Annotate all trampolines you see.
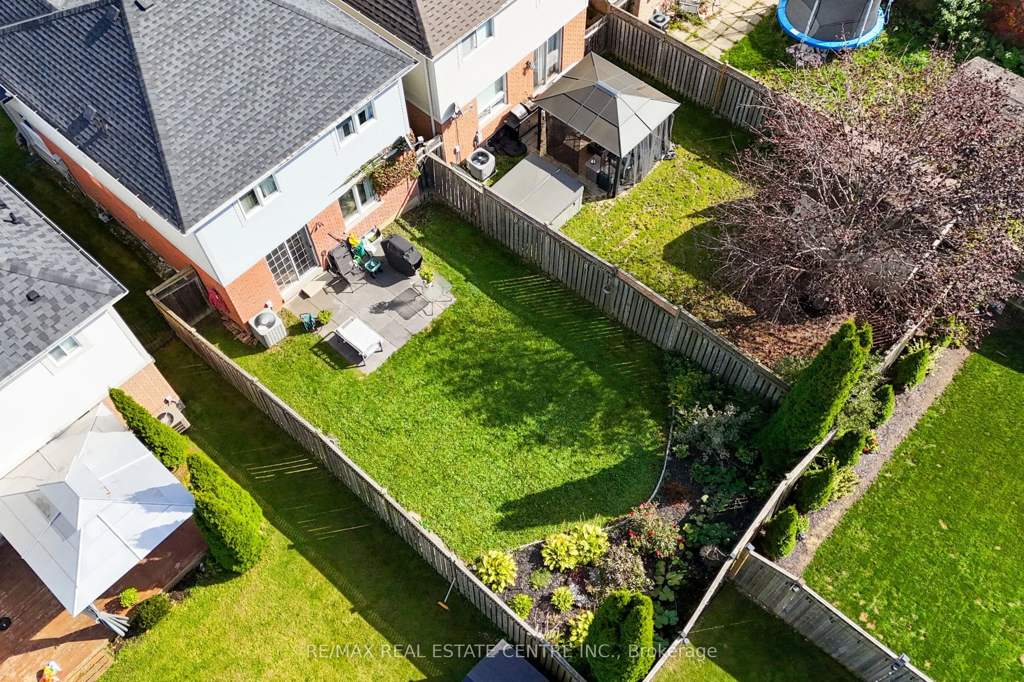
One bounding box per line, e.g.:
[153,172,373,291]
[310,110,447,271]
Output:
[770,0,892,63]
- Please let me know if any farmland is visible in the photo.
No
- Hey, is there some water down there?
No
